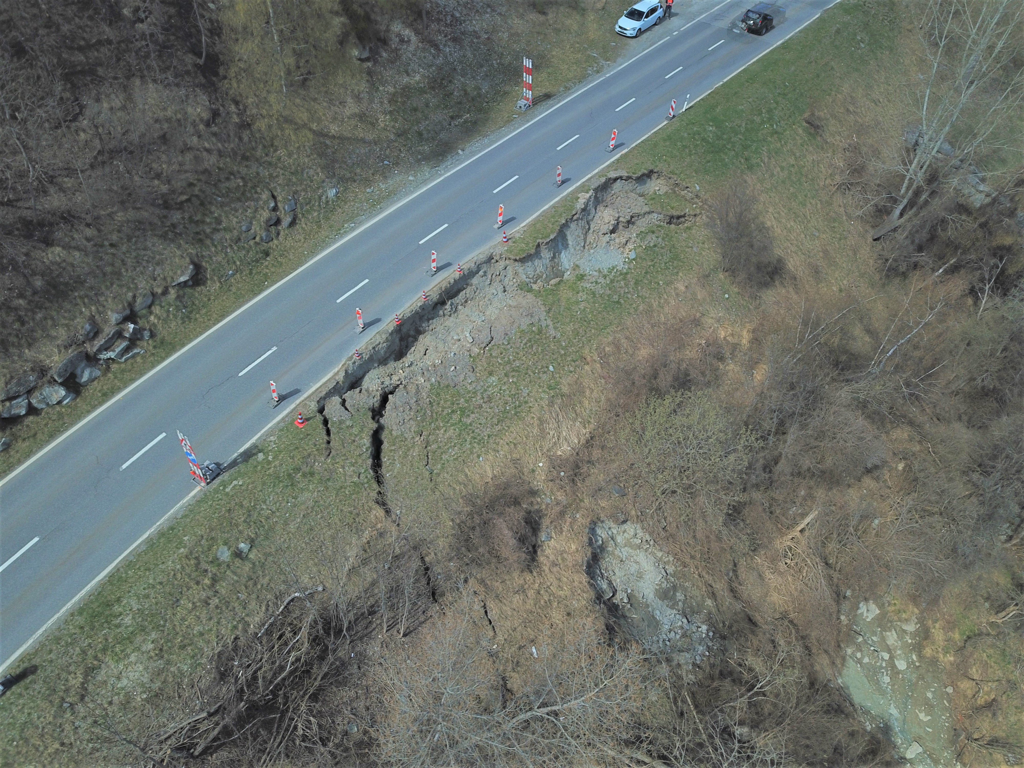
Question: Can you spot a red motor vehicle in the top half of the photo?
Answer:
No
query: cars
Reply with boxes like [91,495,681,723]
[740,0,785,34]
[614,0,665,38]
